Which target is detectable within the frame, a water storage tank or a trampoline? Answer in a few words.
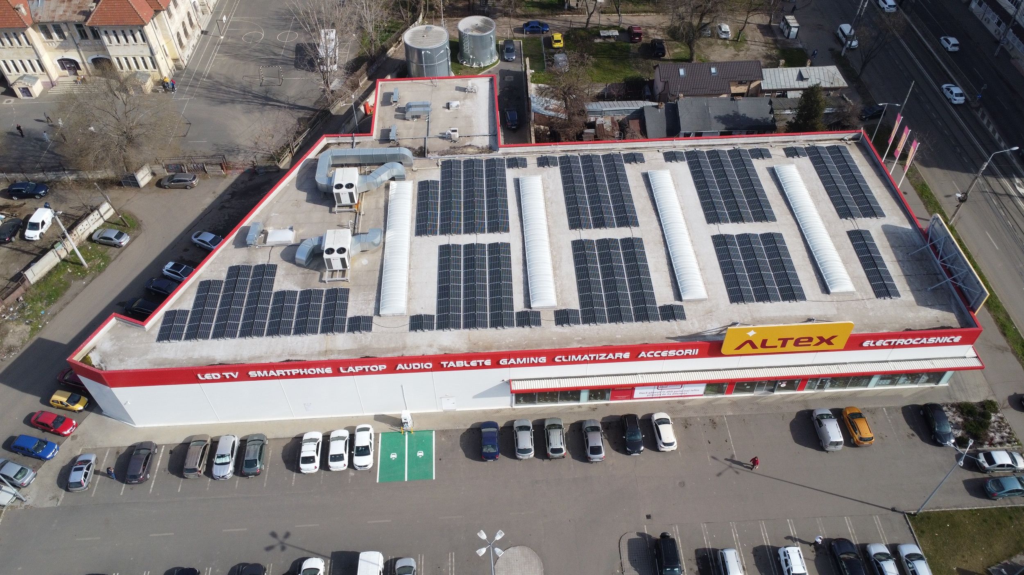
water storage tank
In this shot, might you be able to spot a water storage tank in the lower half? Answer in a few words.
No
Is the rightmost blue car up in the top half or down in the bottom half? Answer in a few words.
bottom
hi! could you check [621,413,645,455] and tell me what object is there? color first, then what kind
black car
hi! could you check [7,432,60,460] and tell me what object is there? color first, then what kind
blue car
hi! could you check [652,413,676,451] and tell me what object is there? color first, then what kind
white car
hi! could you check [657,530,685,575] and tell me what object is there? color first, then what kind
black car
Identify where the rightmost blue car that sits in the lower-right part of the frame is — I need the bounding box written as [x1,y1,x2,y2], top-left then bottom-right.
[983,473,1024,498]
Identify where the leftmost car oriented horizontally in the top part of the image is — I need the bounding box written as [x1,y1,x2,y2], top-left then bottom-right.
[7,180,47,199]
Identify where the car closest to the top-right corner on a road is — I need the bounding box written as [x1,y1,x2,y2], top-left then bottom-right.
[939,34,962,51]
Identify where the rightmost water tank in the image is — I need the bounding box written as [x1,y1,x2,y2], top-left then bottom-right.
[456,20,498,69]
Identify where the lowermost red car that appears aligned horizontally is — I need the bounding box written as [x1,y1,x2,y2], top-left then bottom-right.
[28,409,77,436]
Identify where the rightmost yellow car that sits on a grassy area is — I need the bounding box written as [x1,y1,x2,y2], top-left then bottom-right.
[551,32,564,48]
